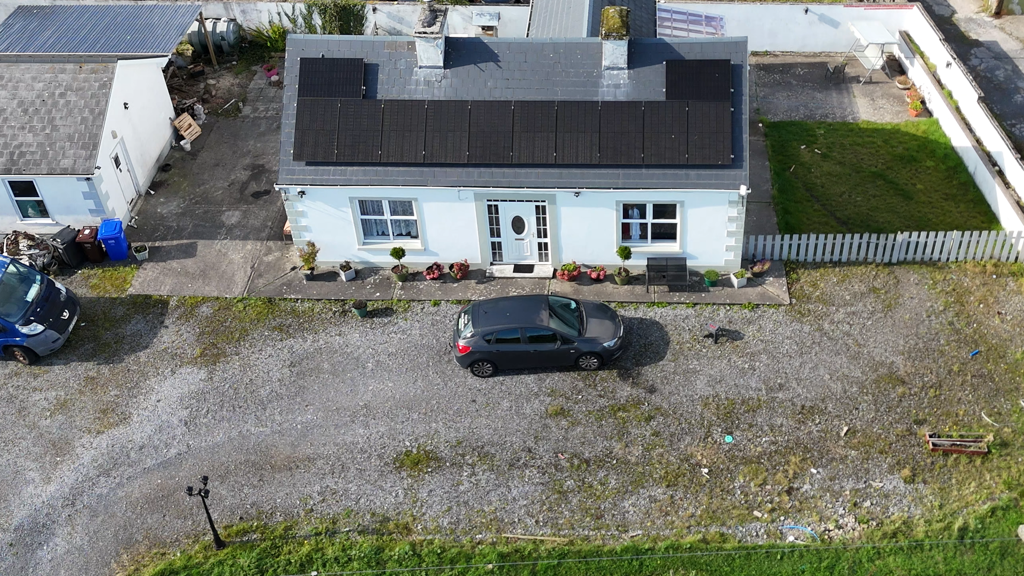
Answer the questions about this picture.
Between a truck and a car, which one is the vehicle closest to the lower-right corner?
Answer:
car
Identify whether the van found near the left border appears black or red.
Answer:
black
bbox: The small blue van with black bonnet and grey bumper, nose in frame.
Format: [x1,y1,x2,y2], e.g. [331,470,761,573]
[0,268,82,363]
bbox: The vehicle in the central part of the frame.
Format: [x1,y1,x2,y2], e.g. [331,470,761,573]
[448,290,625,378]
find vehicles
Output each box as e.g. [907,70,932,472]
[0,268,82,363]
[448,290,625,378]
